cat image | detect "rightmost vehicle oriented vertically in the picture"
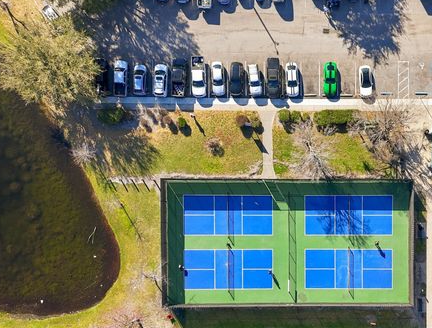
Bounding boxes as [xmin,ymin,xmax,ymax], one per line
[359,66,374,98]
